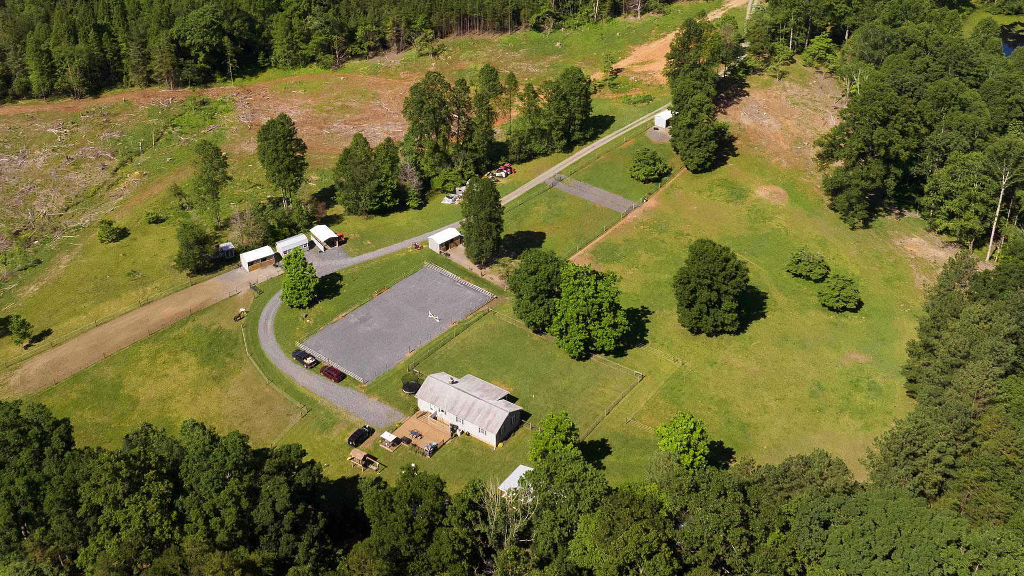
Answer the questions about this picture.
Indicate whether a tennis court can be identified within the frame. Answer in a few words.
No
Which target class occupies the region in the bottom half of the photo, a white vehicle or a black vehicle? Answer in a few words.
black vehicle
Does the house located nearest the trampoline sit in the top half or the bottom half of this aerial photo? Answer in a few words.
bottom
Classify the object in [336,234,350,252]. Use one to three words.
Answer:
work vehicle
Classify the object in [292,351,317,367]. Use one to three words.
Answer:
vehicle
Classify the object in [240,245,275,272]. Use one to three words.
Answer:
shed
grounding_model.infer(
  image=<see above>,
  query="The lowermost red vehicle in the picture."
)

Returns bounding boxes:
[320,366,343,381]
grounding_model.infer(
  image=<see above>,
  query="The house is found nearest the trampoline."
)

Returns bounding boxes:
[415,372,522,450]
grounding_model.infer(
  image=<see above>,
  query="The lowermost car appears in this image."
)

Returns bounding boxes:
[348,429,374,447]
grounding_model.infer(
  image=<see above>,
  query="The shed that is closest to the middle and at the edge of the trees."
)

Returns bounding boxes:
[428,227,460,254]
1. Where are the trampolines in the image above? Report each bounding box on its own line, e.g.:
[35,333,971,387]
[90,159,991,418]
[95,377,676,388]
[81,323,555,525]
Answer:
[401,376,420,395]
